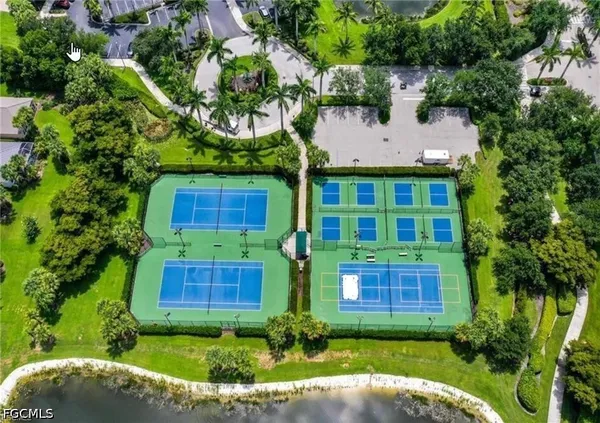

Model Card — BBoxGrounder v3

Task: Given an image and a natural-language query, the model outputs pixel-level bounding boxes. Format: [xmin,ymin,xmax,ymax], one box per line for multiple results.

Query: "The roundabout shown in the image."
[201,45,290,128]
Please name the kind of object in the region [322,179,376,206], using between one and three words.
sports court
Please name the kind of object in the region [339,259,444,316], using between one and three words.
tennis court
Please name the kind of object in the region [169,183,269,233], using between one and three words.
tennis court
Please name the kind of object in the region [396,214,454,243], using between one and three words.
sports court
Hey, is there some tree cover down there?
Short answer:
Yes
